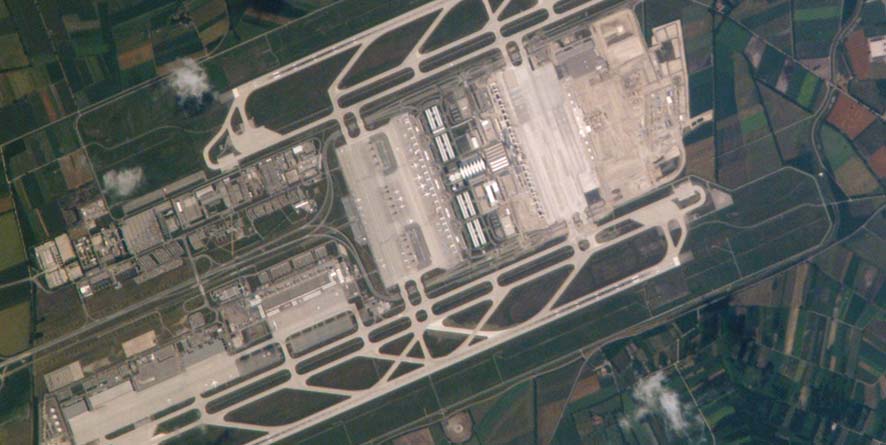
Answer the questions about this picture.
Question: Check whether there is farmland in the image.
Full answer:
Yes, there is farmland in the image.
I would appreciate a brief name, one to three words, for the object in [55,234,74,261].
shed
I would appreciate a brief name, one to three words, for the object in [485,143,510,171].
building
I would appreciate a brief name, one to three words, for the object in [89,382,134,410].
hangar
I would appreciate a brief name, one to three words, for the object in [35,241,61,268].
shed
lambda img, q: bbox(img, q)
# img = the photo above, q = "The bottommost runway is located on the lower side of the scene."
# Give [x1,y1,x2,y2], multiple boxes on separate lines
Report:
[245,256,679,445]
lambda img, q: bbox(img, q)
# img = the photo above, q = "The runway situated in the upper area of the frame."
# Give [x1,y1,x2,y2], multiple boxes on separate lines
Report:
[233,0,459,98]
